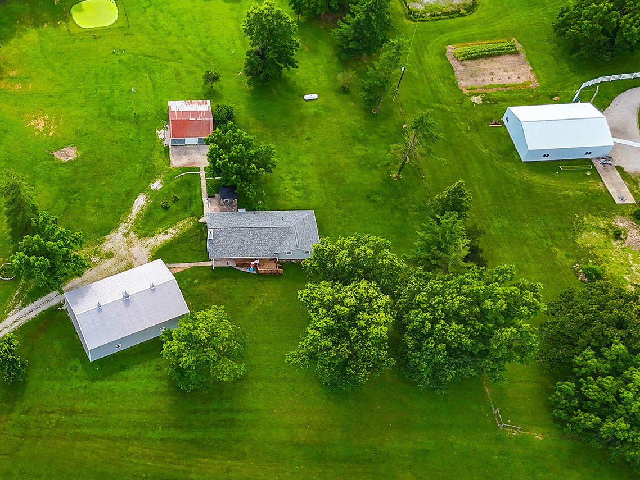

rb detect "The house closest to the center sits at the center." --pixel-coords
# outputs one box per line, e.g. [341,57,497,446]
[206,211,321,272]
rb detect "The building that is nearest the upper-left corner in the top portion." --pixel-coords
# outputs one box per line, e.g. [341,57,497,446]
[169,100,214,146]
